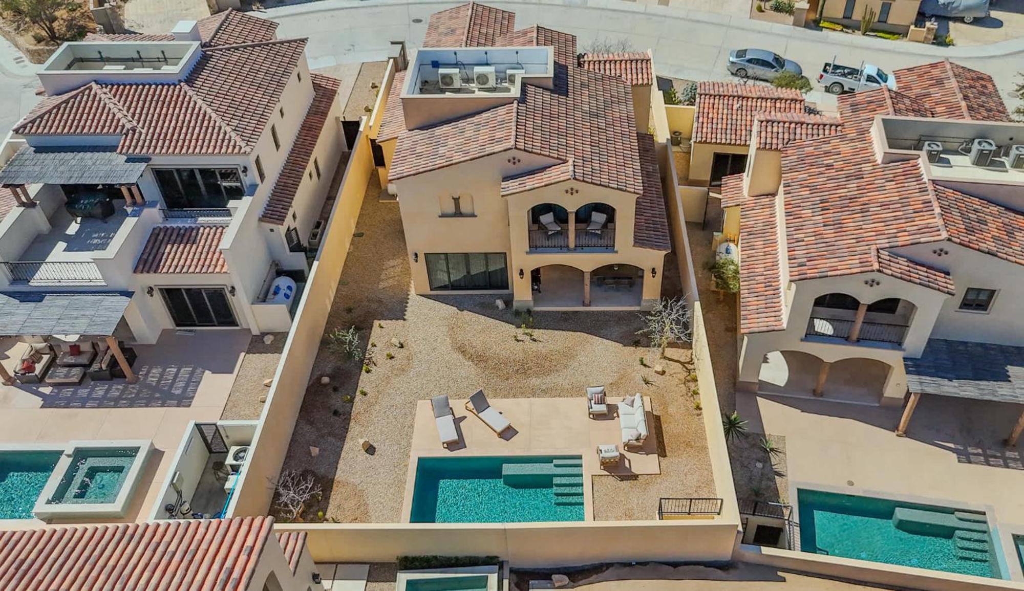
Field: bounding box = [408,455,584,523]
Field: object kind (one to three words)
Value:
swimming pool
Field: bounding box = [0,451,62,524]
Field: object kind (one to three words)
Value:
swimming pool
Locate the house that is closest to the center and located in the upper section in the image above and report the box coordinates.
[375,0,675,308]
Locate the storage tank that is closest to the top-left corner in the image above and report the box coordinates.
[271,269,302,304]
